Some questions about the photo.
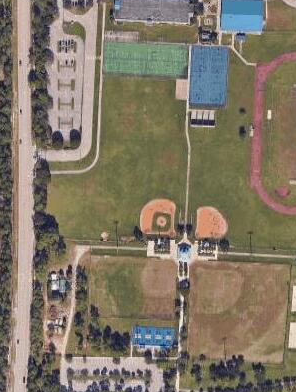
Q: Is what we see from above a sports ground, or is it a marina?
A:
sports ground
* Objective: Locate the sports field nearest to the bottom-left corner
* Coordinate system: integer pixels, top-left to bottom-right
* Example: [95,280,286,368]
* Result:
[90,256,180,321]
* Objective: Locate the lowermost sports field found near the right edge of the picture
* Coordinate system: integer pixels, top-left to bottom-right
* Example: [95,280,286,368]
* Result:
[187,262,290,363]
